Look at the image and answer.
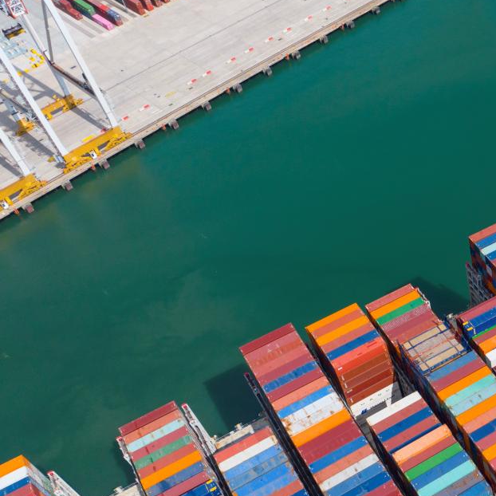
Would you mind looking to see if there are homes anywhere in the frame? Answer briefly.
No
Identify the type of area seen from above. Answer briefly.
port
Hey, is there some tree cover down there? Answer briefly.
No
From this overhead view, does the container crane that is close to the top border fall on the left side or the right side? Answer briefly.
left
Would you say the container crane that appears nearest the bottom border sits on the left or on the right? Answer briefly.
left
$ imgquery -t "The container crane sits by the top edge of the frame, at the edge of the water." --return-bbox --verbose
[0,0,132,170]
